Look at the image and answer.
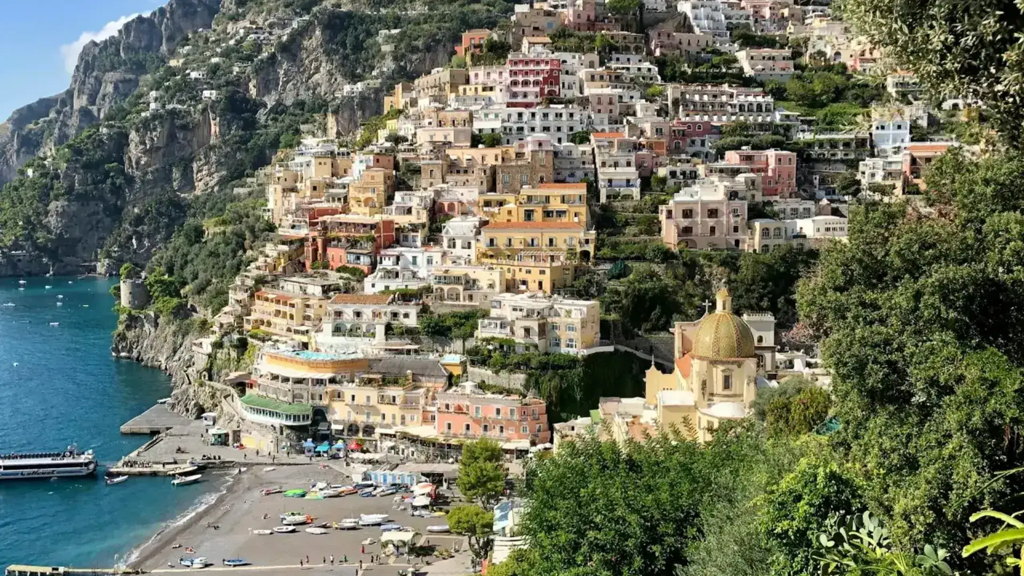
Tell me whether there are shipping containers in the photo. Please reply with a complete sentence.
No, there appears to be no shipping container in this shot.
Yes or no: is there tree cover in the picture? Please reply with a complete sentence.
Yes, there's tree cover in this view.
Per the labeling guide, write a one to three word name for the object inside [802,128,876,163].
house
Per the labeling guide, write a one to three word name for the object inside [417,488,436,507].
umbrella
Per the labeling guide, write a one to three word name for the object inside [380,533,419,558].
building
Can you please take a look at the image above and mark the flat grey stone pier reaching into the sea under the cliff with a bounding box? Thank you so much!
[121,404,195,436]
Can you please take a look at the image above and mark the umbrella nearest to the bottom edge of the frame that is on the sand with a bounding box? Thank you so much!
[402,556,422,575]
